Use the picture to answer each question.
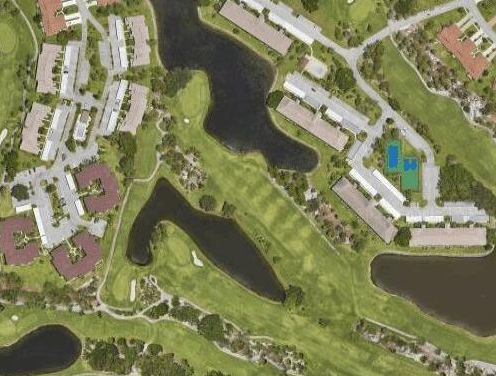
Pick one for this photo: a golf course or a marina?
golf course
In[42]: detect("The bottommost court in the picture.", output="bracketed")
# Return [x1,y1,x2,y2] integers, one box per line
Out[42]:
[401,158,419,190]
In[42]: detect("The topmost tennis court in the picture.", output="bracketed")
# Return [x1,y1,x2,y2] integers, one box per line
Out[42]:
[387,140,401,171]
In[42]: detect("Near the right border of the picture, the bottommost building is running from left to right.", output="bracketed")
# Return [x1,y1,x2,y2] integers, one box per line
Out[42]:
[409,225,486,246]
